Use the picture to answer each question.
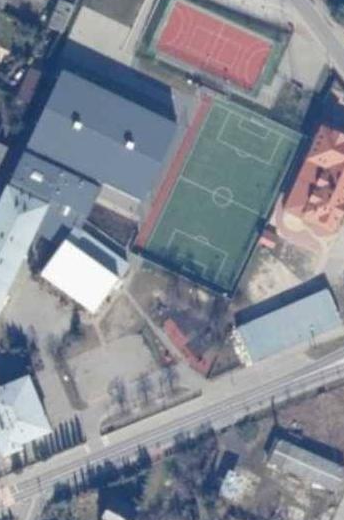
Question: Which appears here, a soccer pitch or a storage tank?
soccer pitch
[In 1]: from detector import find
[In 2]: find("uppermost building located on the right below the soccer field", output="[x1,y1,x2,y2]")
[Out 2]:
[236,289,340,365]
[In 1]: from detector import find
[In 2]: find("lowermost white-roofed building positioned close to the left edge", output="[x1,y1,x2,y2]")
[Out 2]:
[0,376,52,458]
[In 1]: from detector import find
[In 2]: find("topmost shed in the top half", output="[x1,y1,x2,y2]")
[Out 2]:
[47,1,74,32]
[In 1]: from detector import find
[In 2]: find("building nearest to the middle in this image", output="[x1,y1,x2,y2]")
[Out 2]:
[41,229,128,313]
